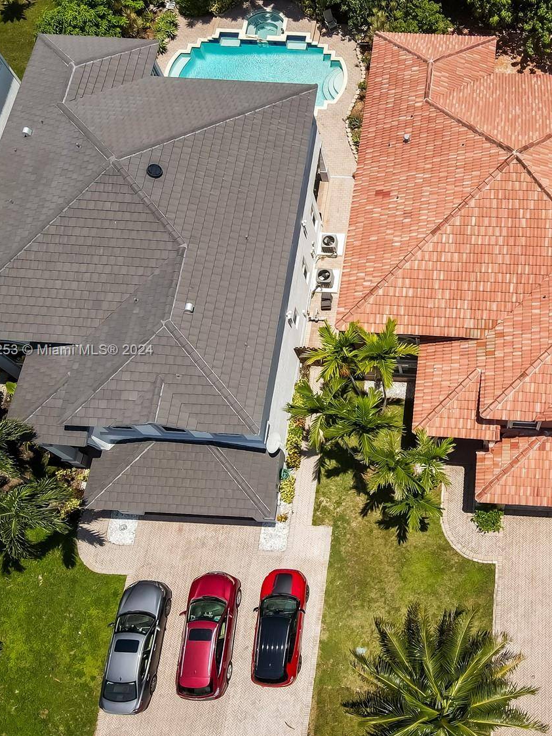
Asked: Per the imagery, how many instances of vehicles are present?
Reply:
3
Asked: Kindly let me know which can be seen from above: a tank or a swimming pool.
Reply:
swimming pool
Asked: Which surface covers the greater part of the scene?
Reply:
buildings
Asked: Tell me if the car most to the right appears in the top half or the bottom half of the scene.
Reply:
bottom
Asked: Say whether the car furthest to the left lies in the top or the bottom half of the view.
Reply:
bottom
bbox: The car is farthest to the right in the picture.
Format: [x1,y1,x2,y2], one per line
[250,569,309,686]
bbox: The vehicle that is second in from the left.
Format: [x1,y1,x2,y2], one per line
[176,571,241,700]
